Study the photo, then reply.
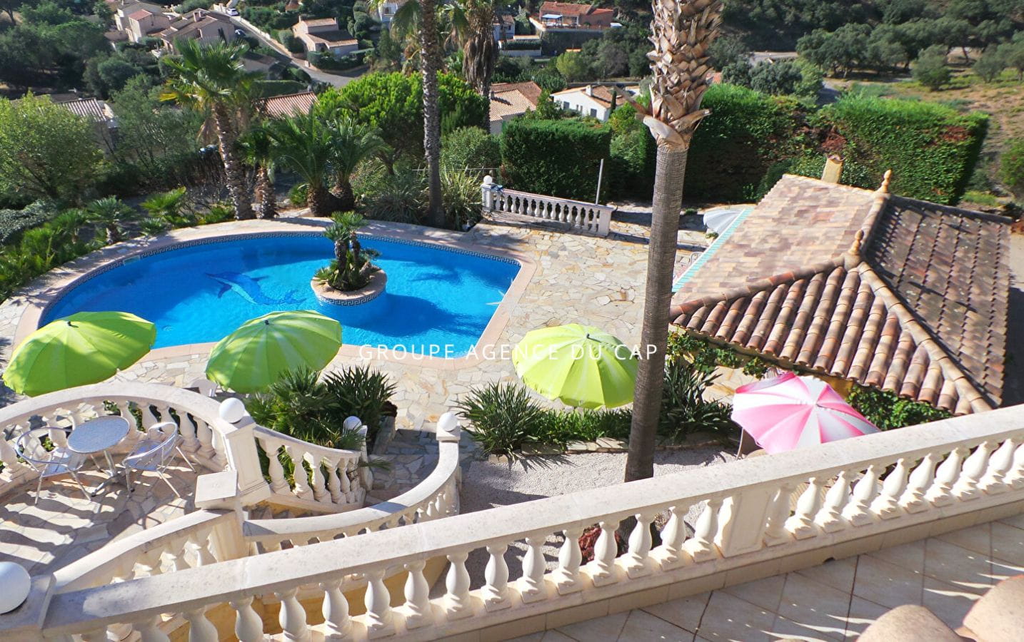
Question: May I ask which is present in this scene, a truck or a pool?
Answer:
pool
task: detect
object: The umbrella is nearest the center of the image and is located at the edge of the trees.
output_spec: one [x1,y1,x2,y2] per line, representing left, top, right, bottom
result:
[521,313,641,439]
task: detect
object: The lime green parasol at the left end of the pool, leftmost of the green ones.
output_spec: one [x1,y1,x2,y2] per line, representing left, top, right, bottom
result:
[2,305,161,415]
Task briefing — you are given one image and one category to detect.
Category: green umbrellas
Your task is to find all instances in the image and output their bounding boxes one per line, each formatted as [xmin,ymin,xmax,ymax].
[521,313,641,439]
[2,305,161,415]
[199,308,345,400]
